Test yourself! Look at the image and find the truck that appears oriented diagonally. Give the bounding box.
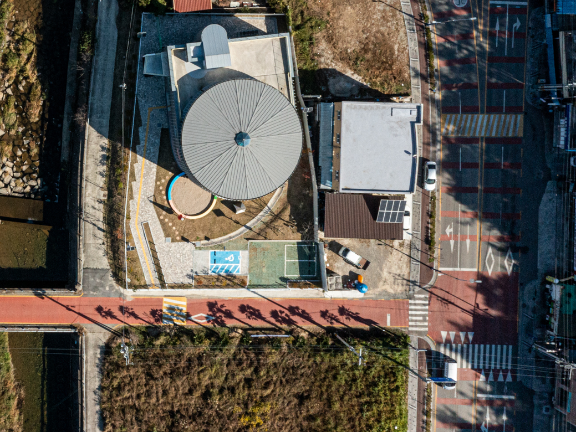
[337,245,371,271]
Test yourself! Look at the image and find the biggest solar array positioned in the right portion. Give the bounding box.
[374,199,407,223]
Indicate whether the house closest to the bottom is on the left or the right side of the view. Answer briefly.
right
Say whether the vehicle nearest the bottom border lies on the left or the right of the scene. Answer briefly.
right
